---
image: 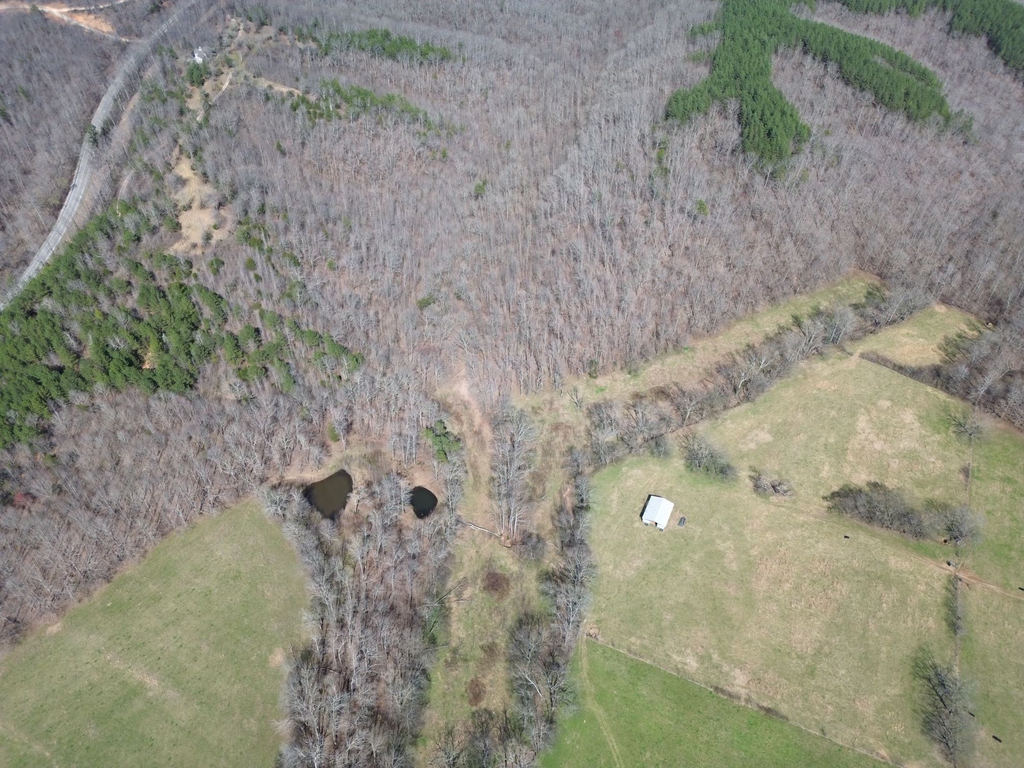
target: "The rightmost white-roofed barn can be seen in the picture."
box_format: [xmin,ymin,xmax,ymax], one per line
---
[641,496,674,533]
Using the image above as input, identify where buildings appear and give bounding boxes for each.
[189,44,209,62]
[641,496,674,533]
